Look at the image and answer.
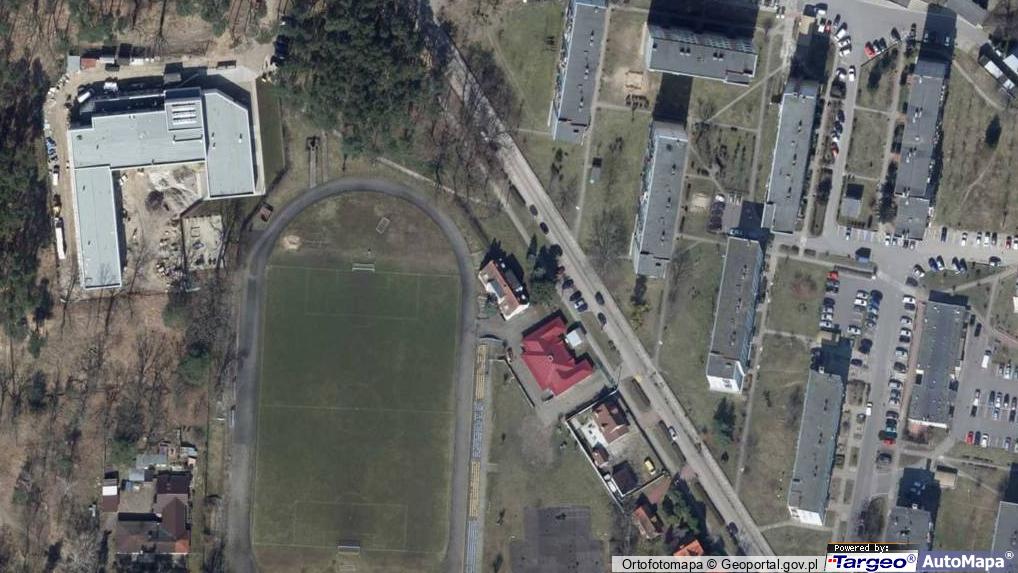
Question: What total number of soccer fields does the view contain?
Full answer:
The picture shows just 1 soccer field.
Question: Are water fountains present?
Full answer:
No, I can't see a single water fountain in this photo.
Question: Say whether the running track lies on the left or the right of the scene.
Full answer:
The running track sits on the left side.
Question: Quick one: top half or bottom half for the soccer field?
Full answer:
It is in the bottom half that the soccer field appears.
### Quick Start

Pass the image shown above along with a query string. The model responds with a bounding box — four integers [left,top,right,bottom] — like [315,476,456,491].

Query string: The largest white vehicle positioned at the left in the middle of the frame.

[54,220,68,262]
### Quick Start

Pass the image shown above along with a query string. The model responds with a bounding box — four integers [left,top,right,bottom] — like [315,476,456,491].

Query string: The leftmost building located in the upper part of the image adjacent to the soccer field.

[67,87,254,288]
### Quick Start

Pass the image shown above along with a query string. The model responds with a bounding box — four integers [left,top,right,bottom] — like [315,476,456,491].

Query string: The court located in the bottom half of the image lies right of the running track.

[509,506,605,573]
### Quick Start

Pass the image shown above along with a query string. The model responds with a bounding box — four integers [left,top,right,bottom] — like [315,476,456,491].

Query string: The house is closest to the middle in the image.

[479,263,530,318]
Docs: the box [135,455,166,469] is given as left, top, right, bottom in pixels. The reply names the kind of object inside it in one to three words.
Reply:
shed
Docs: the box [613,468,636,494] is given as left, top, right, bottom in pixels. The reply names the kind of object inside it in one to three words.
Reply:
building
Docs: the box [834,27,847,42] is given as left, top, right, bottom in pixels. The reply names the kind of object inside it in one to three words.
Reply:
vehicle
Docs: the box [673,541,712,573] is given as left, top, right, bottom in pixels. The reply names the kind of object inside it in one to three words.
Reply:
house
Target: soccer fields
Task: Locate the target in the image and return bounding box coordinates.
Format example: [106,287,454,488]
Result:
[253,266,459,553]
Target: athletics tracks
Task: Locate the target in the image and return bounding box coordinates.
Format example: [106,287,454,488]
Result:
[224,177,477,573]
